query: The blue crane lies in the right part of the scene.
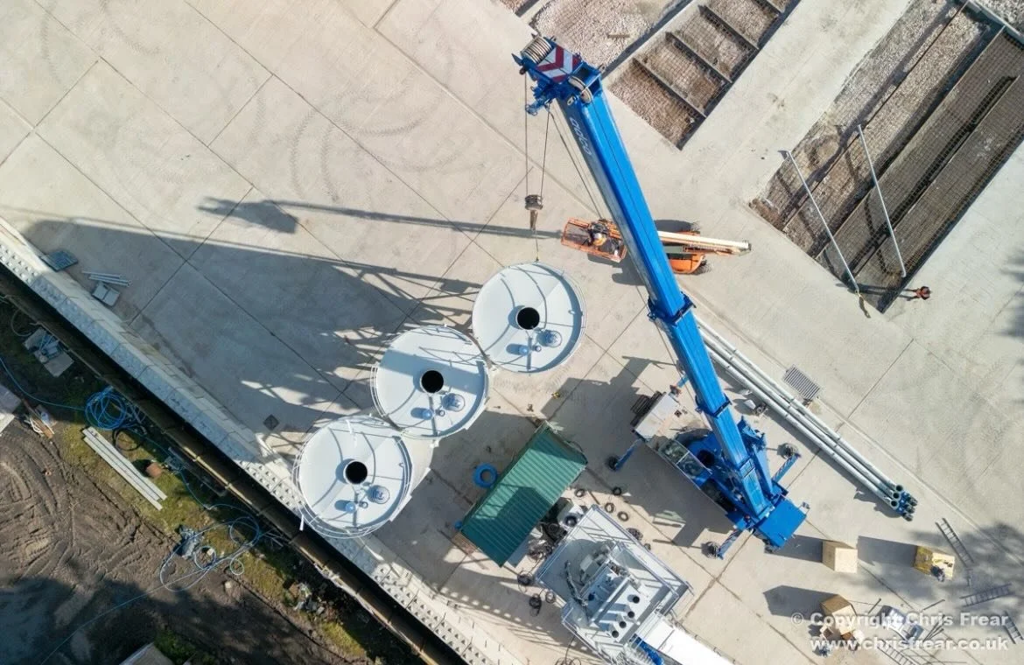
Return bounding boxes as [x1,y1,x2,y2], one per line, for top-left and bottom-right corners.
[511,33,816,556]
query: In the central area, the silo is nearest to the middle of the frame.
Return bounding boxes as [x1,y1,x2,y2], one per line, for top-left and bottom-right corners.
[471,248,586,378]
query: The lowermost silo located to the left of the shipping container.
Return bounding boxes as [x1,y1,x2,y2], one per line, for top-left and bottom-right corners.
[287,407,449,536]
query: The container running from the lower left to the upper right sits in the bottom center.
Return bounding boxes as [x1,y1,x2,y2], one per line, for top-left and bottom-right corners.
[456,421,592,571]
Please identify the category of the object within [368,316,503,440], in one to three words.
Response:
silo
